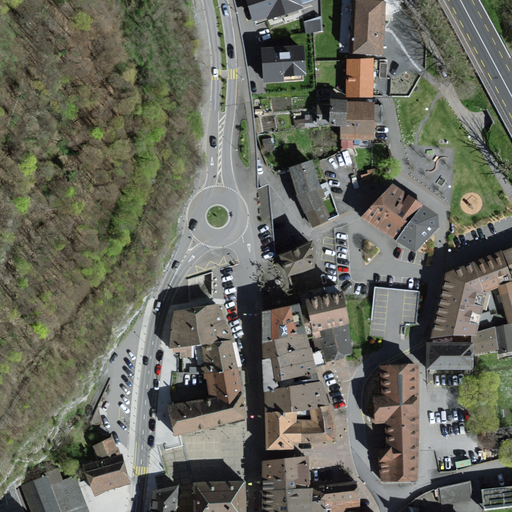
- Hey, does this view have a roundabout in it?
Yes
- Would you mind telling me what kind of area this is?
residential area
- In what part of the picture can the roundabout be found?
center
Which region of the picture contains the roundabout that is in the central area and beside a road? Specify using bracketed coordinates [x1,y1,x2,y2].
[186,185,249,248]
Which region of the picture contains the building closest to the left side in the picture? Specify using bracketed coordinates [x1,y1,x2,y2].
[20,467,90,512]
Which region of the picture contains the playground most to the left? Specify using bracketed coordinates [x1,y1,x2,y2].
[397,146,454,206]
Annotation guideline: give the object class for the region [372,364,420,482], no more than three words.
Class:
building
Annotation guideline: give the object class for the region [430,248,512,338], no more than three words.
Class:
building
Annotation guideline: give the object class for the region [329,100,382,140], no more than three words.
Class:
house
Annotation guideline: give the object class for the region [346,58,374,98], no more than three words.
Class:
house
